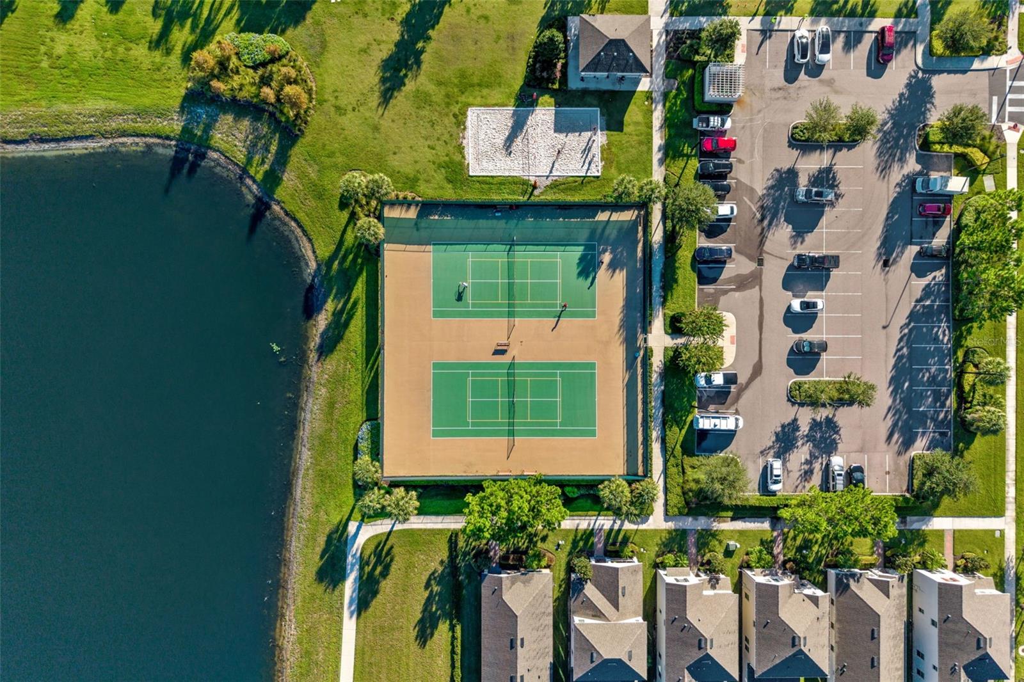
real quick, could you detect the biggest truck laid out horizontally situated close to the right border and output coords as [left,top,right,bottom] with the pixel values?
[911,175,973,196]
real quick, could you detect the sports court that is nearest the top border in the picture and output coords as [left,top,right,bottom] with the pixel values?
[468,94,602,187]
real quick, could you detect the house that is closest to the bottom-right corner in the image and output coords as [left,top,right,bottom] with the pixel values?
[914,569,1010,682]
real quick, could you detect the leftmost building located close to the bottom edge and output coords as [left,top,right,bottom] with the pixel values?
[481,561,553,682]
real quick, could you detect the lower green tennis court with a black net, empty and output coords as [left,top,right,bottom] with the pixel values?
[432,356,597,446]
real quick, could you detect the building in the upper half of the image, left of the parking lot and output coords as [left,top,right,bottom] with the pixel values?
[579,14,651,81]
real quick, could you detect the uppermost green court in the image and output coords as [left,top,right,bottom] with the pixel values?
[432,235,597,325]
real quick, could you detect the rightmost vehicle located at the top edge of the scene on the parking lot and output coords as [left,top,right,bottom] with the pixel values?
[876,26,895,63]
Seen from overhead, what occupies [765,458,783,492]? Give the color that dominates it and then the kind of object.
white car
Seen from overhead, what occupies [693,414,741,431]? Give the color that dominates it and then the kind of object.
white vehicle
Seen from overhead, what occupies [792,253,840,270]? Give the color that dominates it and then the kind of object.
black vehicle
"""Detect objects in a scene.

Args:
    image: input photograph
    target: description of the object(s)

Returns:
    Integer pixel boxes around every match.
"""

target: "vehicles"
[693,414,741,431]
[702,136,736,153]
[792,30,810,64]
[697,180,731,196]
[813,28,831,64]
[917,201,951,217]
[876,26,895,63]
[793,187,835,204]
[792,338,827,355]
[698,159,732,175]
[847,461,865,482]
[789,298,824,314]
[918,243,949,258]
[765,458,783,492]
[911,175,973,196]
[695,245,731,262]
[690,114,732,131]
[695,373,737,389]
[827,455,846,492]
[710,205,737,219]
[792,253,840,270]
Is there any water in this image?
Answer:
Yes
